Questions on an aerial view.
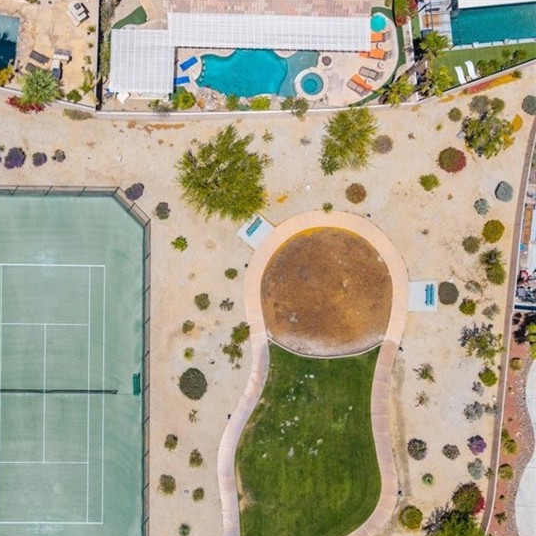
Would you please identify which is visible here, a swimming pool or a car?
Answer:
swimming pool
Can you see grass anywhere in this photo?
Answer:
Yes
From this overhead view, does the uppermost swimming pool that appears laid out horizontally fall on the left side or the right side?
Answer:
right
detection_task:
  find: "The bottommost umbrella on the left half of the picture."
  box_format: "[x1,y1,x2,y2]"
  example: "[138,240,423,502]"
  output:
[115,92,131,108]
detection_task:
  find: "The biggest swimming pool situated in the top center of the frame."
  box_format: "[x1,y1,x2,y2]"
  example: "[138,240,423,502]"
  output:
[194,48,323,100]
